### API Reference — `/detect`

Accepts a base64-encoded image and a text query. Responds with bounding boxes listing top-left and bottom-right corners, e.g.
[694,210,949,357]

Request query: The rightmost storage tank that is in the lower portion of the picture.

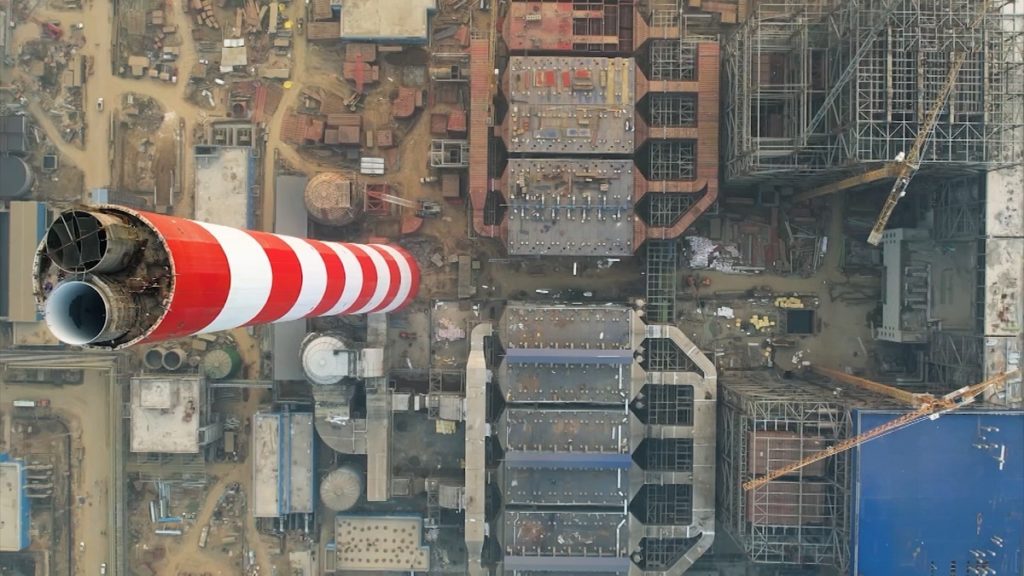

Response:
[319,462,366,510]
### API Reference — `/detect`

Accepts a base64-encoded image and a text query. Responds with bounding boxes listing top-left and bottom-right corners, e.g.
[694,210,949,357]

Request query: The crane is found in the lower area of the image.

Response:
[742,358,1024,491]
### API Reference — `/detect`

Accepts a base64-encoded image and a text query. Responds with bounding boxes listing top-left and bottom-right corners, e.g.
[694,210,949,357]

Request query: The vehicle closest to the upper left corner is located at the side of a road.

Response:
[36,20,59,35]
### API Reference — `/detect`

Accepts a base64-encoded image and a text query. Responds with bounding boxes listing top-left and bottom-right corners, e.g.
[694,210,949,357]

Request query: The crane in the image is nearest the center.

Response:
[358,197,439,215]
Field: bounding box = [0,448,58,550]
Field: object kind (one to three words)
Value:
building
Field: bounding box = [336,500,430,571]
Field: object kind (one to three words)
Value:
building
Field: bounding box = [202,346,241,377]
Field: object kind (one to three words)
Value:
storage tank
